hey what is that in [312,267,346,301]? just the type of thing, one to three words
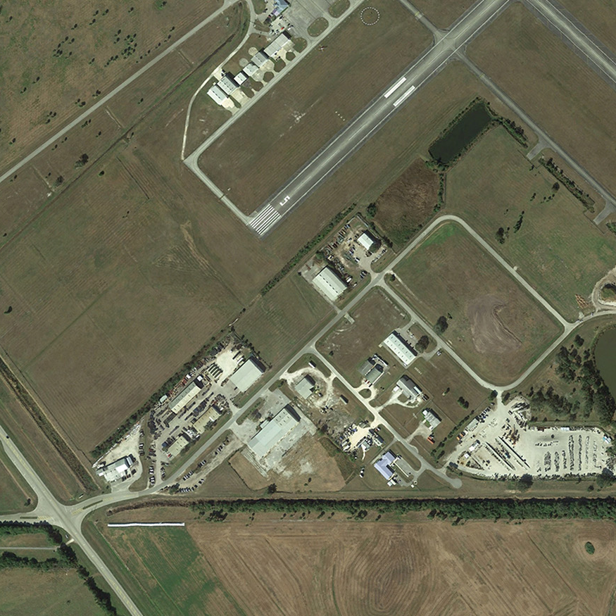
building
